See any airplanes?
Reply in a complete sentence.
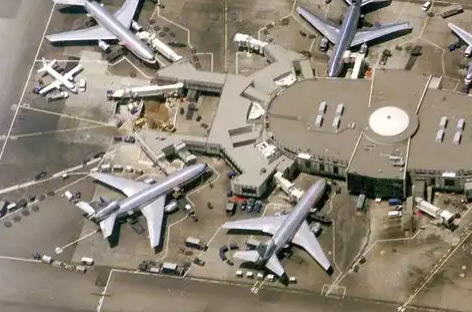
Yes, you can see an airplane in this photo.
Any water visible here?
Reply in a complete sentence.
No, the picture contains no water.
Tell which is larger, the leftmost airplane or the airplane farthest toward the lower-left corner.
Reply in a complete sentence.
Compared with the leftmost airplane, the airplane farthest toward the lower-left corner is the bigger one.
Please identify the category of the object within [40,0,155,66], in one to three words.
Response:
airplane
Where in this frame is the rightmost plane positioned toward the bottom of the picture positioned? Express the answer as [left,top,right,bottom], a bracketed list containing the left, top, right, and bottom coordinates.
[221,184,329,276]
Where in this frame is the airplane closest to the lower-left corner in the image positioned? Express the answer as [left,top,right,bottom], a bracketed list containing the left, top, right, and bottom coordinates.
[74,169,206,251]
